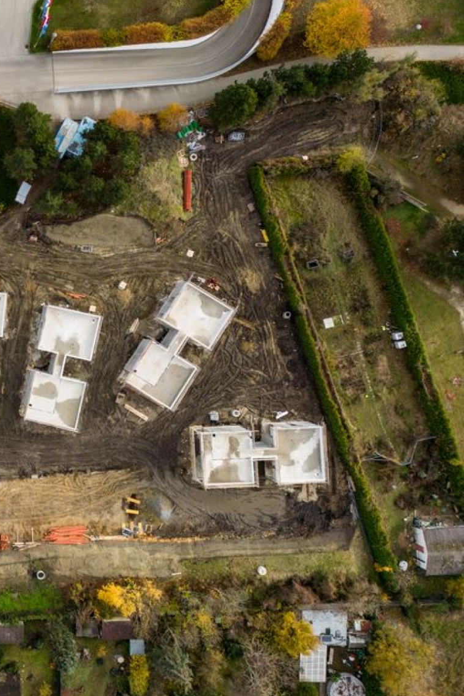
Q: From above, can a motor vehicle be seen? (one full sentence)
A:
No, no motor vehicle can be seen from above.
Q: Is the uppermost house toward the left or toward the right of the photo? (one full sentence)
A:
The uppermost house appears in the right half of the scene.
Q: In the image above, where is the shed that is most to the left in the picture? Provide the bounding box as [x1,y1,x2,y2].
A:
[0,619,24,643]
